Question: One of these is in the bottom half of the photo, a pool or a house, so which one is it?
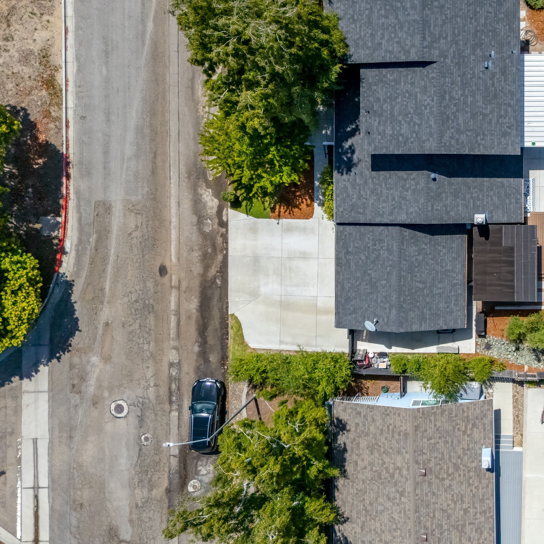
house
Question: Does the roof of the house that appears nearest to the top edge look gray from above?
Yes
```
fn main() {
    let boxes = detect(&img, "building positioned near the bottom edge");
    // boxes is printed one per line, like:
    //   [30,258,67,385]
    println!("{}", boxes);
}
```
[331,387,495,544]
